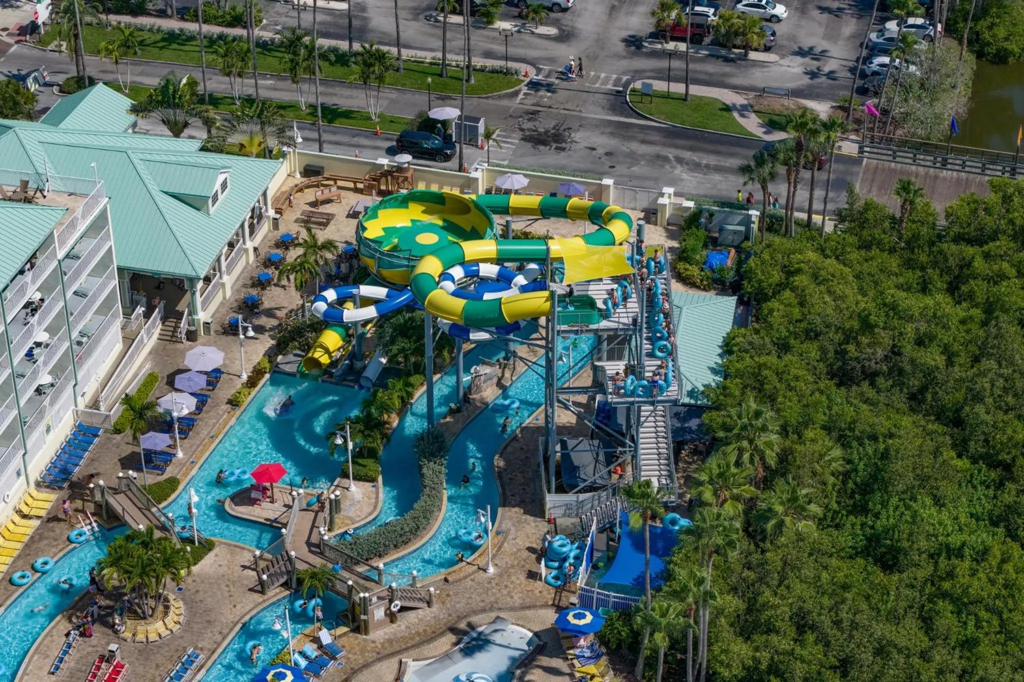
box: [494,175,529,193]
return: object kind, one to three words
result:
umbrella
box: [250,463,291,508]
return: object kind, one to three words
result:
umbrella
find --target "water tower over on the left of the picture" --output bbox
[390,153,412,197]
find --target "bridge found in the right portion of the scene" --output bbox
[844,119,1024,249]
